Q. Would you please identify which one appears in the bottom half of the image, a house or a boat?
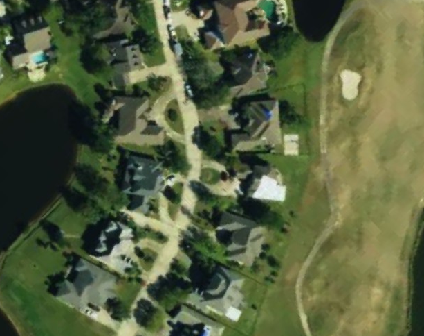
house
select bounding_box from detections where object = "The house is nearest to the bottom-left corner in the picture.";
[54,255,123,314]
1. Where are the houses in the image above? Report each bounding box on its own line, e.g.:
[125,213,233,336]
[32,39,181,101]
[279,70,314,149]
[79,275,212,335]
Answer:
[87,212,142,267]
[8,11,55,72]
[120,154,168,214]
[54,255,123,314]
[224,44,274,99]
[104,40,143,92]
[189,260,251,316]
[242,160,288,202]
[228,98,281,152]
[92,0,141,40]
[111,94,164,146]
[199,0,271,52]
[170,302,228,336]
[216,207,269,268]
